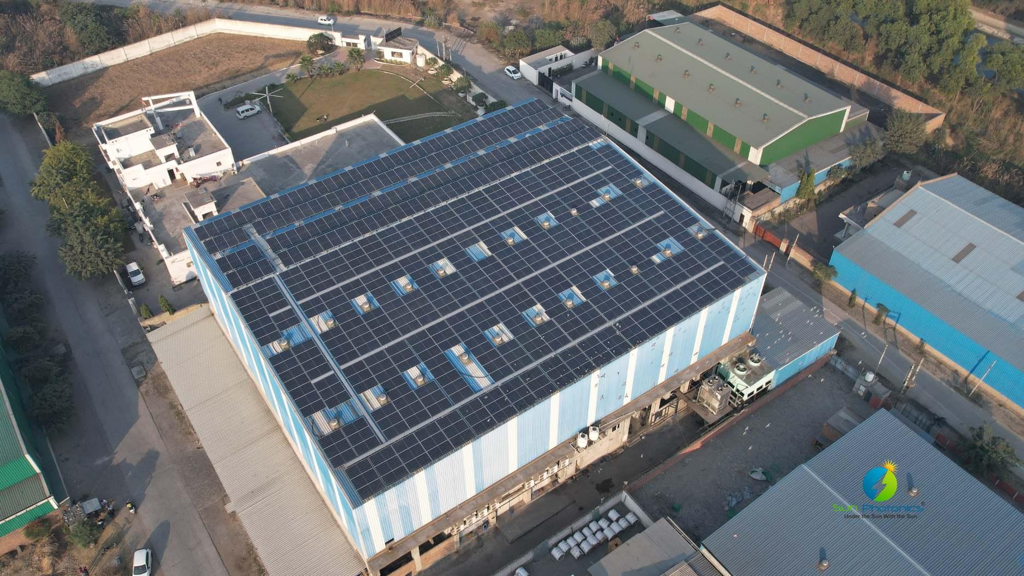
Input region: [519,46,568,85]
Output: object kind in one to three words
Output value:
house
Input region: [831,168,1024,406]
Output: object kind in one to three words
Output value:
shed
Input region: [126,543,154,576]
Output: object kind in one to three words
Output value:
car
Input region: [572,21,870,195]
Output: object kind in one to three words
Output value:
building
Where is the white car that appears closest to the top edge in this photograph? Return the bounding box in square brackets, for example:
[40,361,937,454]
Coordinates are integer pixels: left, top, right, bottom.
[315,14,336,27]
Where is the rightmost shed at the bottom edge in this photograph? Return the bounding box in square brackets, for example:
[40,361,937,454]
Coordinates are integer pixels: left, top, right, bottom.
[698,411,1024,576]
